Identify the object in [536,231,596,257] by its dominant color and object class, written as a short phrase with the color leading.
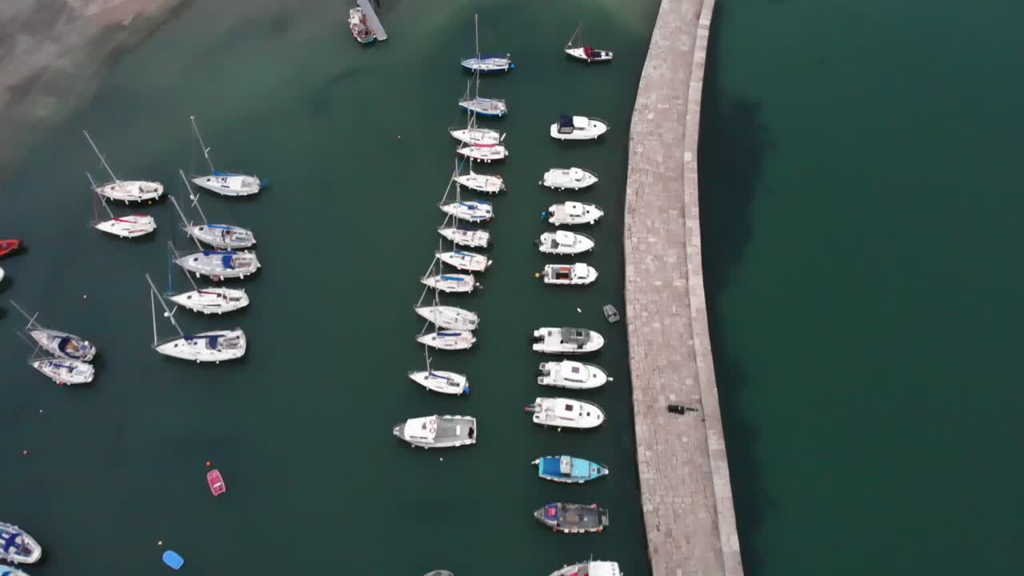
white boat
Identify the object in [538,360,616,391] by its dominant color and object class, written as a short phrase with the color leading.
white boat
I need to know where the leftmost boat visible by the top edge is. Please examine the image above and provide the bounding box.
[349,4,373,45]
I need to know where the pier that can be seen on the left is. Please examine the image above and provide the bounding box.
[357,0,389,42]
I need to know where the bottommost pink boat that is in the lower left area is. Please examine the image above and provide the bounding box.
[207,468,228,498]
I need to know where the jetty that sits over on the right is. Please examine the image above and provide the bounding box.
[617,0,744,576]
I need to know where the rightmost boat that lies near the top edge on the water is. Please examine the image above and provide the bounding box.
[565,21,613,63]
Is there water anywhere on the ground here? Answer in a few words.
Yes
